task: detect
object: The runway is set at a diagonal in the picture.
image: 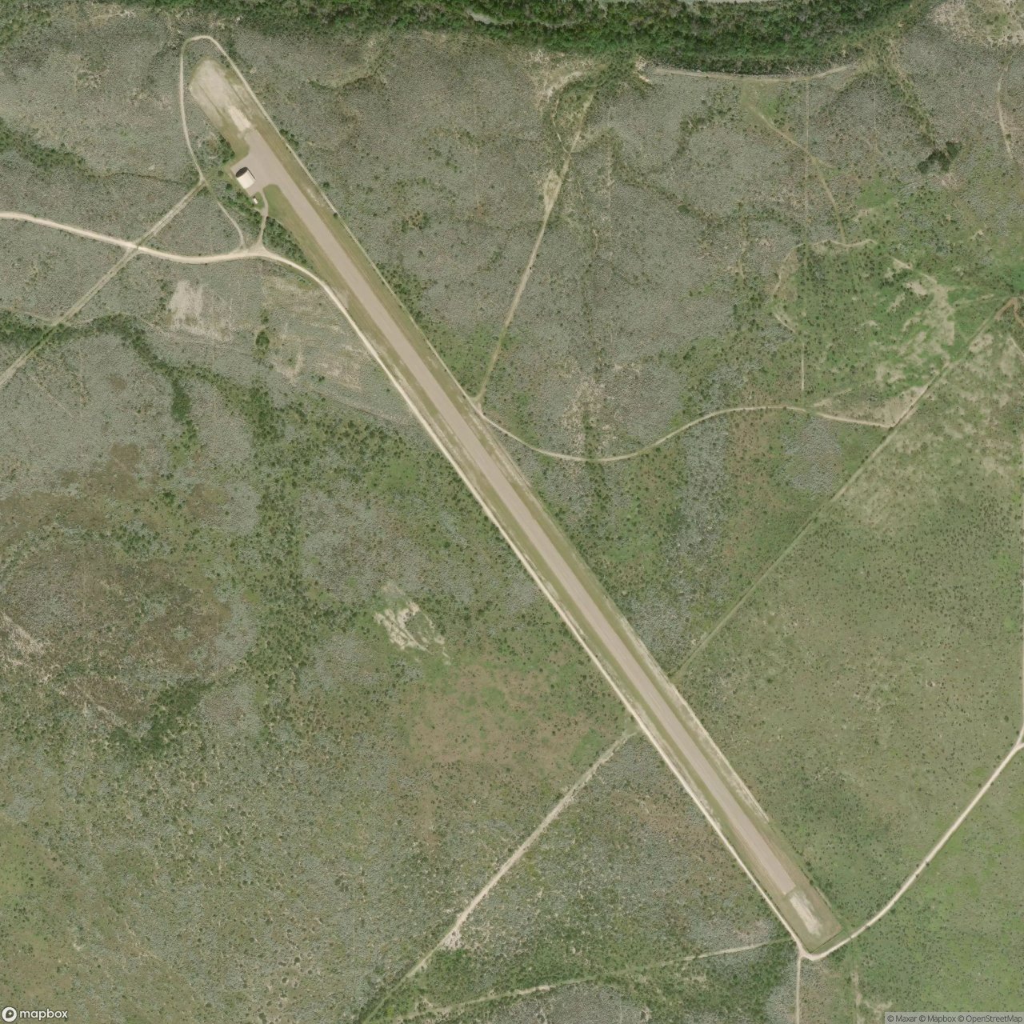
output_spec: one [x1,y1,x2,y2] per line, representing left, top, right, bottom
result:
[231,130,796,894]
